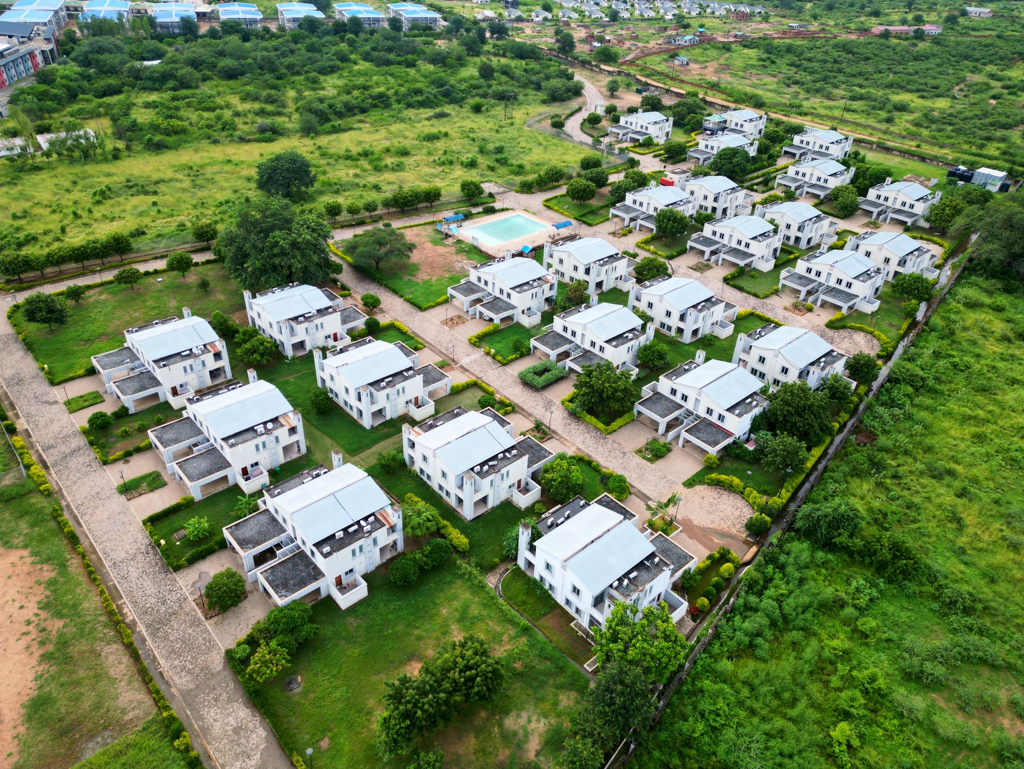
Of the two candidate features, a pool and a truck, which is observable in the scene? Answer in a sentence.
Of the two, only a pool appears.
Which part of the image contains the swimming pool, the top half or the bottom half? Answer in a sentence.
It is in the top half that the swimming pool appears.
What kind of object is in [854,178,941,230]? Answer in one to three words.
house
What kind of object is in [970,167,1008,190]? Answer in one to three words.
building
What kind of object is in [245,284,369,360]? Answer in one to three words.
house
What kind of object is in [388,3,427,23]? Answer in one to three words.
building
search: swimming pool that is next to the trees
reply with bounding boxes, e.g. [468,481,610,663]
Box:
[434,209,580,259]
